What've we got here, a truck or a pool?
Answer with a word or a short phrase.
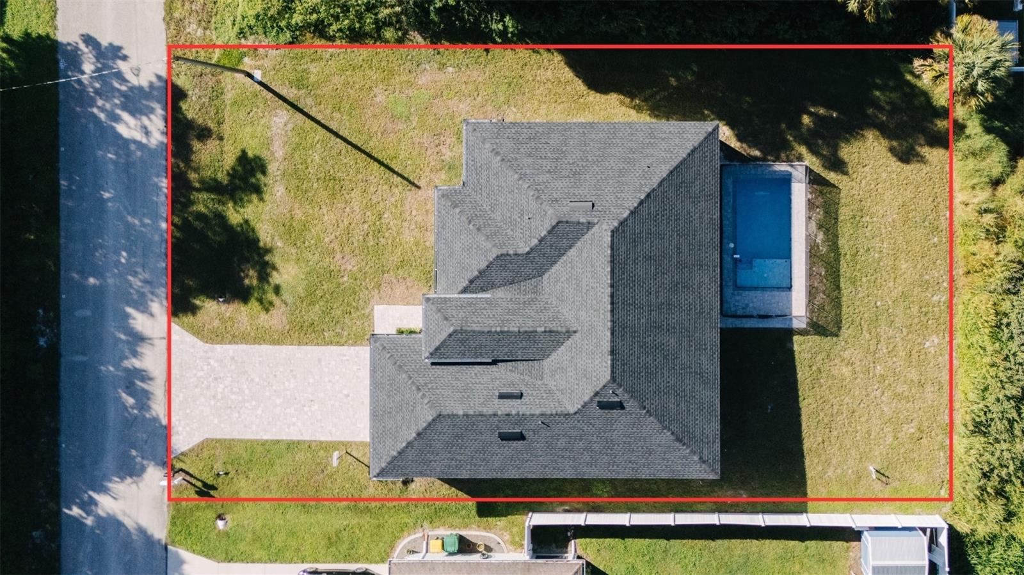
pool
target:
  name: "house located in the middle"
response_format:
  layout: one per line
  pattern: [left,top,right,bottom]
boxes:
[368,118,721,481]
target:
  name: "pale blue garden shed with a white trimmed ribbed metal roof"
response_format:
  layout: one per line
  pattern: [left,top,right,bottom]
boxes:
[860,528,928,575]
